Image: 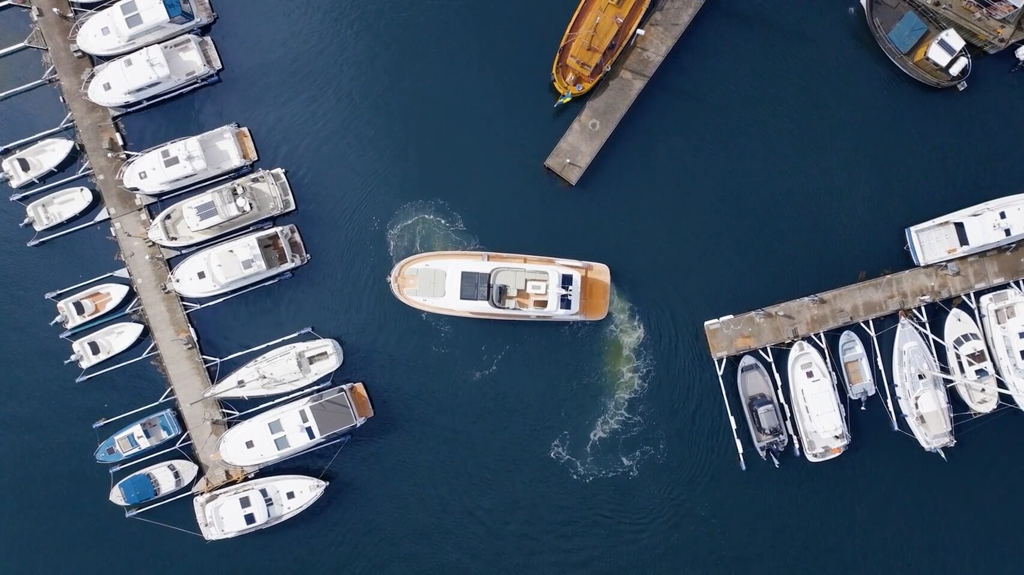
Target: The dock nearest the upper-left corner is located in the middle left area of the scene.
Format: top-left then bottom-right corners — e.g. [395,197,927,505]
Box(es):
[31,0,242,480]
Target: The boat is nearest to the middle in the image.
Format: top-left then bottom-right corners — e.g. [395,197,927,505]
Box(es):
[385,249,610,321]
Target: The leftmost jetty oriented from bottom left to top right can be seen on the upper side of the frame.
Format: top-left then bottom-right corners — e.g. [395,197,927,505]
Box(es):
[542,0,704,186]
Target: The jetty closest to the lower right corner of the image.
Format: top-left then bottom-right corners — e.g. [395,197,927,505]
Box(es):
[702,238,1024,361]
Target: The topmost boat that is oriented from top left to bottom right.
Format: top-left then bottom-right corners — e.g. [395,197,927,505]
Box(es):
[838,0,984,92]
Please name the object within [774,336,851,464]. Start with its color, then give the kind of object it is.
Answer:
white boat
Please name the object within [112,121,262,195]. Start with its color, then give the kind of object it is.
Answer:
white boat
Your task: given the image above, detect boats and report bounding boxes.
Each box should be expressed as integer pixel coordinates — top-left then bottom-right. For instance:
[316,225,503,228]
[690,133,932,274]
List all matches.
[774,336,851,464]
[93,409,187,463]
[161,224,312,297]
[192,377,376,467]
[838,0,984,92]
[14,185,91,243]
[138,168,296,247]
[65,0,227,54]
[109,448,198,514]
[130,437,350,539]
[181,331,345,413]
[876,310,1024,464]
[1005,38,1024,70]
[112,121,262,195]
[734,355,789,469]
[971,285,1024,427]
[76,36,224,108]
[50,281,133,334]
[823,330,895,427]
[385,249,610,321]
[0,128,84,194]
[897,194,1024,271]
[64,324,145,378]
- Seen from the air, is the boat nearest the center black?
No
